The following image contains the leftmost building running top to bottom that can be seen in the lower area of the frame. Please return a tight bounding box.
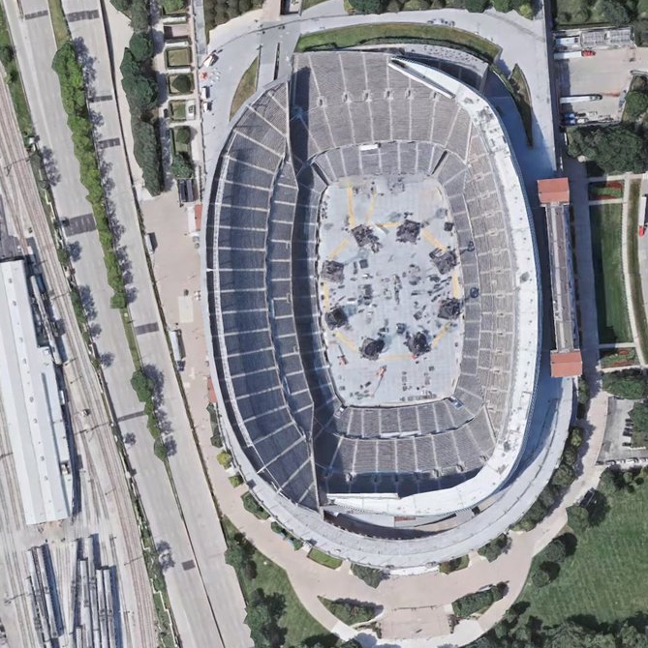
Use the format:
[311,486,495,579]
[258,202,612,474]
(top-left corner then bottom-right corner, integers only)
[0,259,76,524]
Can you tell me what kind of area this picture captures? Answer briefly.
sports ground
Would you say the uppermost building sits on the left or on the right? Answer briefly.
right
